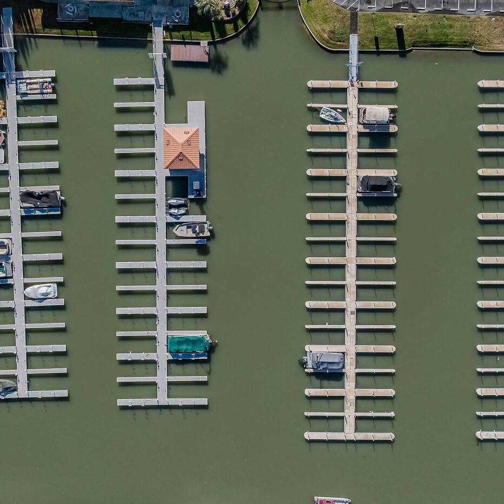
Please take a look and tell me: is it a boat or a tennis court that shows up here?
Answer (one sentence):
It is a boat that can be seen here.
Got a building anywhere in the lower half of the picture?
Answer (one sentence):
No, I can find no building in the lower half of the picture.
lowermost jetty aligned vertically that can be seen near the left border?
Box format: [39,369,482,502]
[0,69,68,402]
